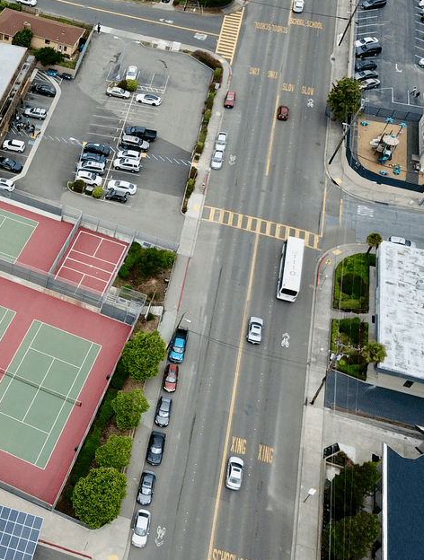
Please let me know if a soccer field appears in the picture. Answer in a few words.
No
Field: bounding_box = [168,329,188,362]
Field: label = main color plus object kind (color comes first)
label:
blue vehicle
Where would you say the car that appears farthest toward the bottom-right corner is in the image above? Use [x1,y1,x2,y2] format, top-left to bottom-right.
[225,457,244,491]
